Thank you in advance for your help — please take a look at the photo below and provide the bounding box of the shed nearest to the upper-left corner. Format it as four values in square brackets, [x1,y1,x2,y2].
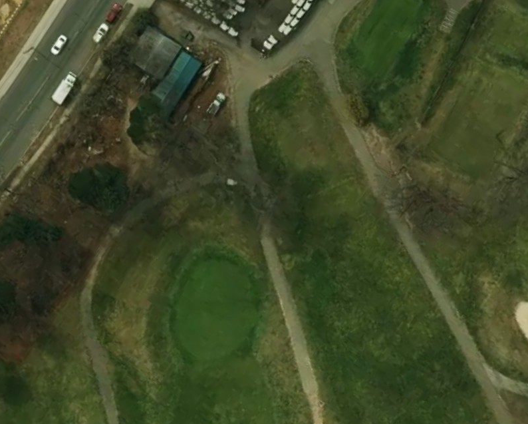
[131,26,183,79]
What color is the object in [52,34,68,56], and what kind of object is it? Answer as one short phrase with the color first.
white car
